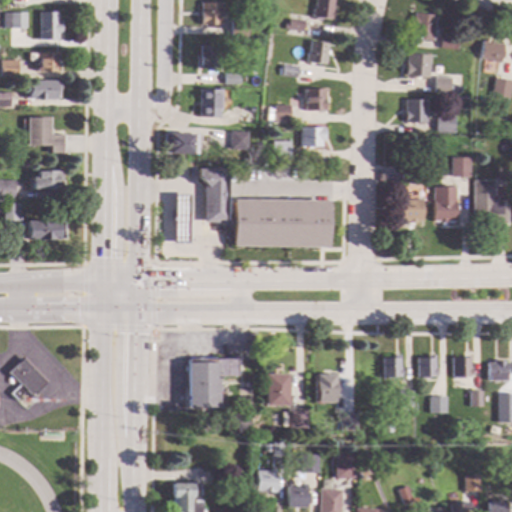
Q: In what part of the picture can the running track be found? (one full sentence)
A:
The running track is located in the bottom left region of the scene.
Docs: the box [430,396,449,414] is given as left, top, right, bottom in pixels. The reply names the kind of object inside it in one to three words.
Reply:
building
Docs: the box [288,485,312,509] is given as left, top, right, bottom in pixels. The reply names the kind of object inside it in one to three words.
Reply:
house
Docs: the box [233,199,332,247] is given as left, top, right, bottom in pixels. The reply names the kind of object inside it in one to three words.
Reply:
building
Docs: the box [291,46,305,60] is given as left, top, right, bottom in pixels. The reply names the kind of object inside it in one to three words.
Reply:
swimming pool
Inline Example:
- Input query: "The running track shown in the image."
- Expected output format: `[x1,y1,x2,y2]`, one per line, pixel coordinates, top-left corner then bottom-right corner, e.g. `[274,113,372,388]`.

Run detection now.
[0,446,58,512]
